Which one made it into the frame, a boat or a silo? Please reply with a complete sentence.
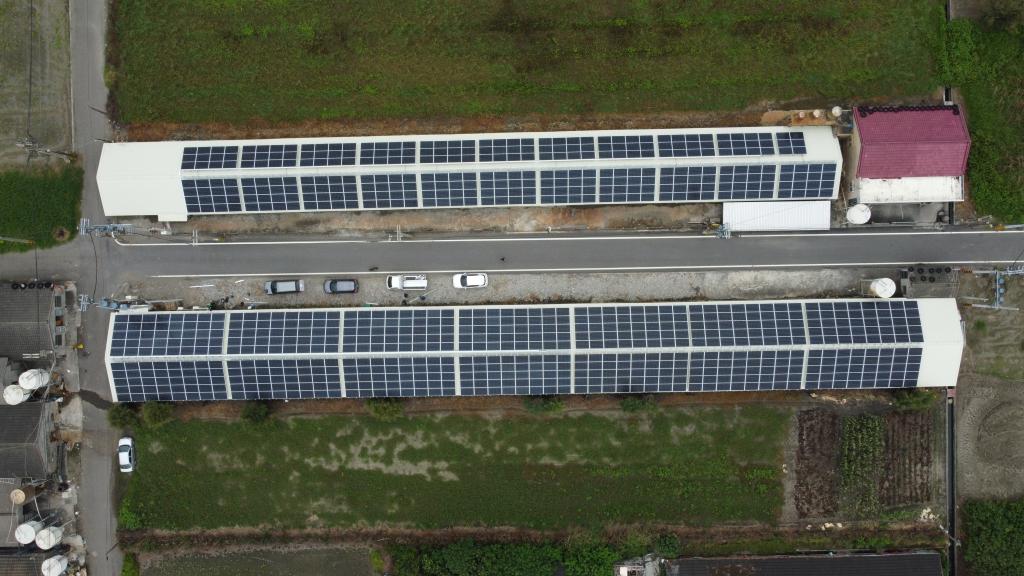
Looking from above, you can make out a silo.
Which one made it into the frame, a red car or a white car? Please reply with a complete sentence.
Looking from above, you can make out a white car.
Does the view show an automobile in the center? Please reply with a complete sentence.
Yes, an automobile is visible in the center.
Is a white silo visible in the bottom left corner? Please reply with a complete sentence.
Yes, a white silo appears in the bottom left corner.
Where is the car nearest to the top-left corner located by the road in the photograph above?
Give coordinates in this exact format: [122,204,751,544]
[266,278,305,295]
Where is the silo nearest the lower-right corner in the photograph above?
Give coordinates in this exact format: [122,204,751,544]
[859,277,897,299]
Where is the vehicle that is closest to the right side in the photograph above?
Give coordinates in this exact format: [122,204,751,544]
[452,272,488,290]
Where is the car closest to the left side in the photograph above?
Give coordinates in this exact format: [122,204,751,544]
[116,435,136,473]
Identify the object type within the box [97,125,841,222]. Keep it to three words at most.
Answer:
barn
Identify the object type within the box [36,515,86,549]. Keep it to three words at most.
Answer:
silo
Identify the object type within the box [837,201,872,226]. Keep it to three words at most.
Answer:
silo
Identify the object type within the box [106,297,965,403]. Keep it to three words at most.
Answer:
barn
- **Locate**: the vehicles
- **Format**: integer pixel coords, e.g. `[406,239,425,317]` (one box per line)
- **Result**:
[386,274,428,291]
[452,272,488,290]
[116,435,136,473]
[324,278,359,295]
[266,278,305,295]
